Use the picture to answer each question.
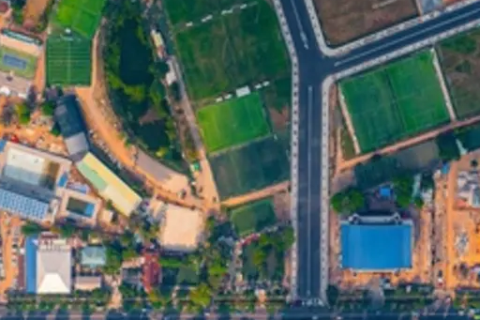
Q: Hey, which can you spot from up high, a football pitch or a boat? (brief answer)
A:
football pitch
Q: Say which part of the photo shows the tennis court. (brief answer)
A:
top left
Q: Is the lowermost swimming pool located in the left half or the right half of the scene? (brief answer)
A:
left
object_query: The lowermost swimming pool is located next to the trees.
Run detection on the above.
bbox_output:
[56,188,100,226]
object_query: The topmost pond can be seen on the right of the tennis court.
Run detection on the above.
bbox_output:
[116,13,154,83]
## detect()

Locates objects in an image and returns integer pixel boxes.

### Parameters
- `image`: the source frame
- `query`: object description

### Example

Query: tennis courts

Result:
[0,50,36,80]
